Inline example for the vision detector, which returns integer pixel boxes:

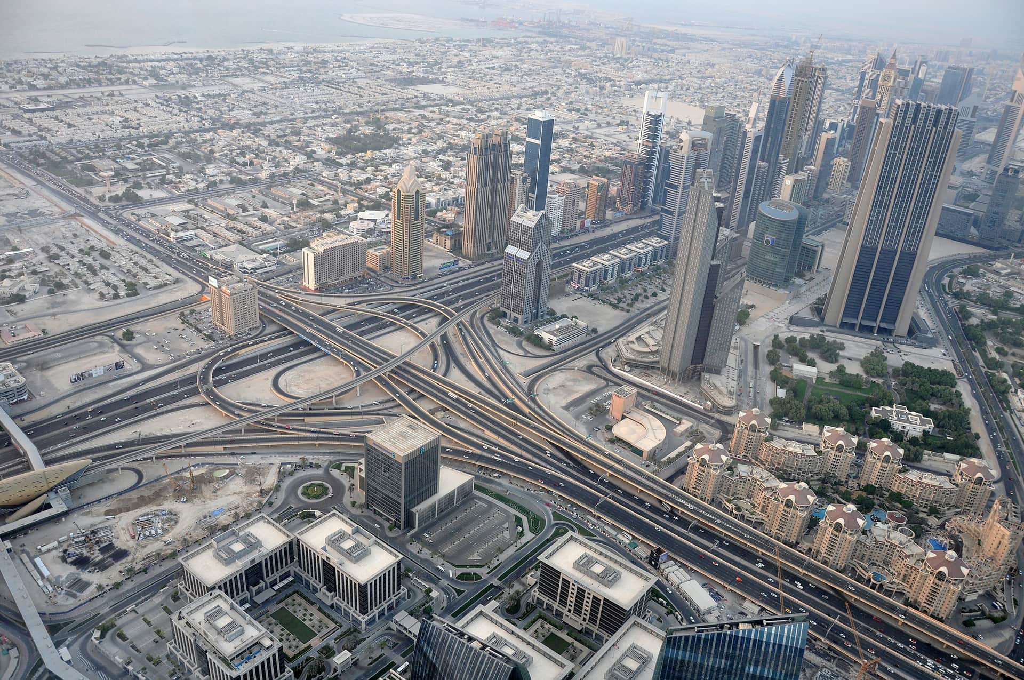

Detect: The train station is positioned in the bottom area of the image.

[0,458,91,521]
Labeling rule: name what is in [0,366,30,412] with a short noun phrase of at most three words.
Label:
building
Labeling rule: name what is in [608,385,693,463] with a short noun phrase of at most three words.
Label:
building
